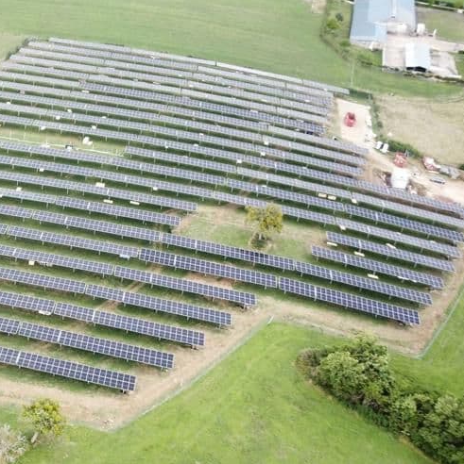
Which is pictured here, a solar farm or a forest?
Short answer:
solar farm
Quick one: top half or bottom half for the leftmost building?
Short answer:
top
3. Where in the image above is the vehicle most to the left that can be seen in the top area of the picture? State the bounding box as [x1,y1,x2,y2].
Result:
[345,110,360,125]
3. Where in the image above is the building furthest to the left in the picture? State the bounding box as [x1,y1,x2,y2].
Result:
[349,0,388,54]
